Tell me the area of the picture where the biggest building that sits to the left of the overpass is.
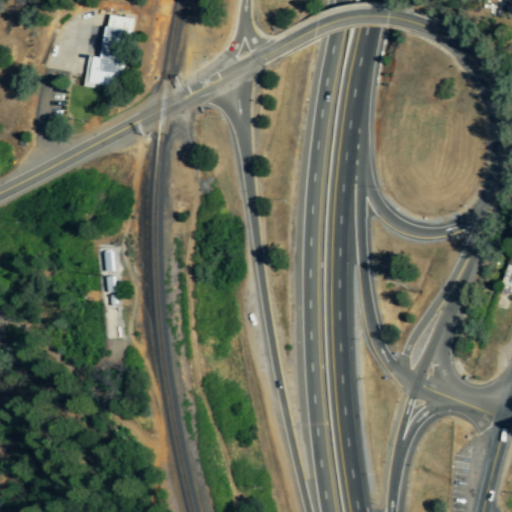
top left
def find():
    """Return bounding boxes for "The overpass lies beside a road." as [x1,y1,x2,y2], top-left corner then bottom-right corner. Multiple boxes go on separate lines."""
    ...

[237,4,426,78]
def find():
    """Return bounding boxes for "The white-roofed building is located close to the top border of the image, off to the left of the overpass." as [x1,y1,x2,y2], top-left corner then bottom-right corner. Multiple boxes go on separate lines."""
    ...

[85,14,136,88]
